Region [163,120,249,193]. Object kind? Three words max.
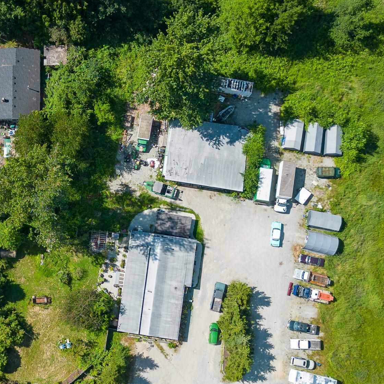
building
